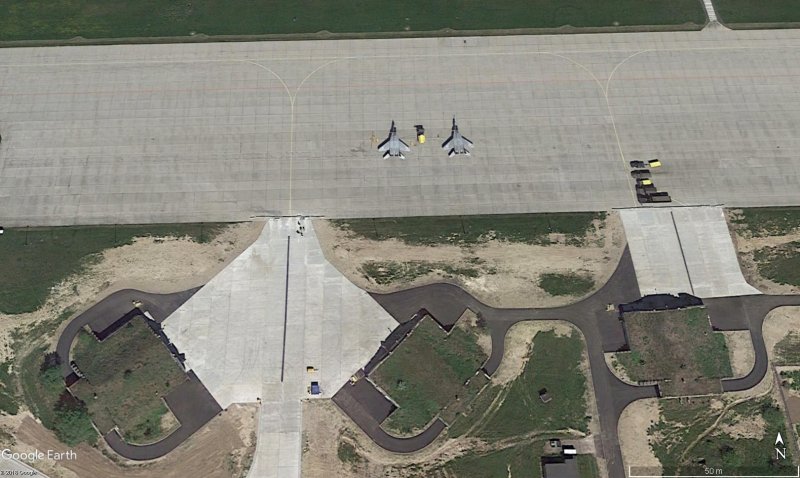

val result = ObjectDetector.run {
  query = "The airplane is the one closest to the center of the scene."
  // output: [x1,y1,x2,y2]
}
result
[379,124,411,160]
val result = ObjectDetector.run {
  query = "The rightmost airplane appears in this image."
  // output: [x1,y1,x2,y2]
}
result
[442,120,474,156]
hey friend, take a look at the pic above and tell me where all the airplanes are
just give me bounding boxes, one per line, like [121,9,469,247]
[379,124,411,160]
[442,120,474,156]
